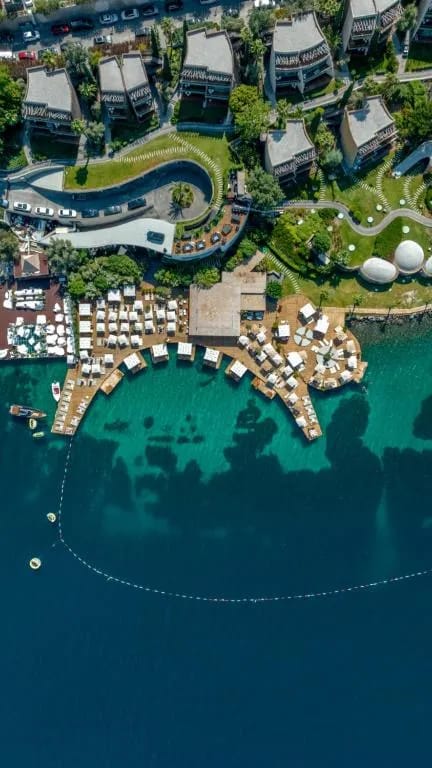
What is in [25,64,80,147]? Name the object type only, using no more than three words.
building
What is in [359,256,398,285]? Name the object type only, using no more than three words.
tent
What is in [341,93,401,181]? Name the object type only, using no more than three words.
building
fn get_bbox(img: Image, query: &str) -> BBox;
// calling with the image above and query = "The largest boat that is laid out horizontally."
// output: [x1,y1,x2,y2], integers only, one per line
[9,406,49,418]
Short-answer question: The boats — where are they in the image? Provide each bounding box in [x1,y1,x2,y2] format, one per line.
[9,406,49,418]
[33,431,45,437]
[29,418,37,429]
[52,380,62,401]
[30,558,40,568]
[46,513,56,521]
